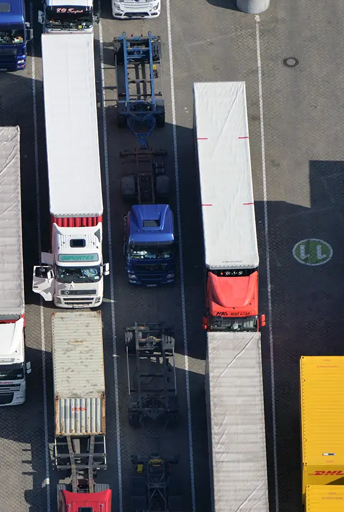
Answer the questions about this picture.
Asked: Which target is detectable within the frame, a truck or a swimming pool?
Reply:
truck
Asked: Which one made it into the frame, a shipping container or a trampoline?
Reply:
shipping container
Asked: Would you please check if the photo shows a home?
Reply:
No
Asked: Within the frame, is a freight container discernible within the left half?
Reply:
Yes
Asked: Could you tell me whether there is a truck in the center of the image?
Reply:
Yes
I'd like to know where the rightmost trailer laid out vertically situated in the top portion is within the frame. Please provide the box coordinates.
[192,82,259,312]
